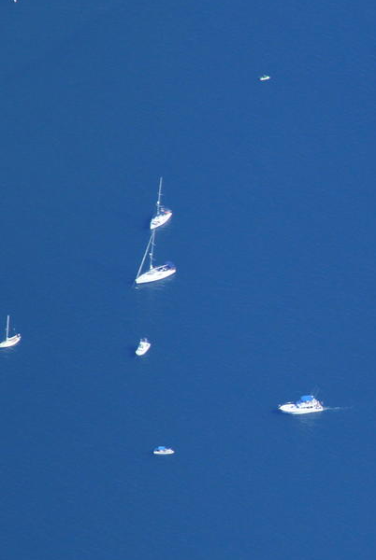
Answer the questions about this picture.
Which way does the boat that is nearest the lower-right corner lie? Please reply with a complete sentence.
Seen from above, the boat that is nearest the lower-right corner lies from side to side.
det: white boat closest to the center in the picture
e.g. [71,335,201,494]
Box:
[136,230,176,283]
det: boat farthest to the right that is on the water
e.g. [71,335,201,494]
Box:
[278,391,326,414]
